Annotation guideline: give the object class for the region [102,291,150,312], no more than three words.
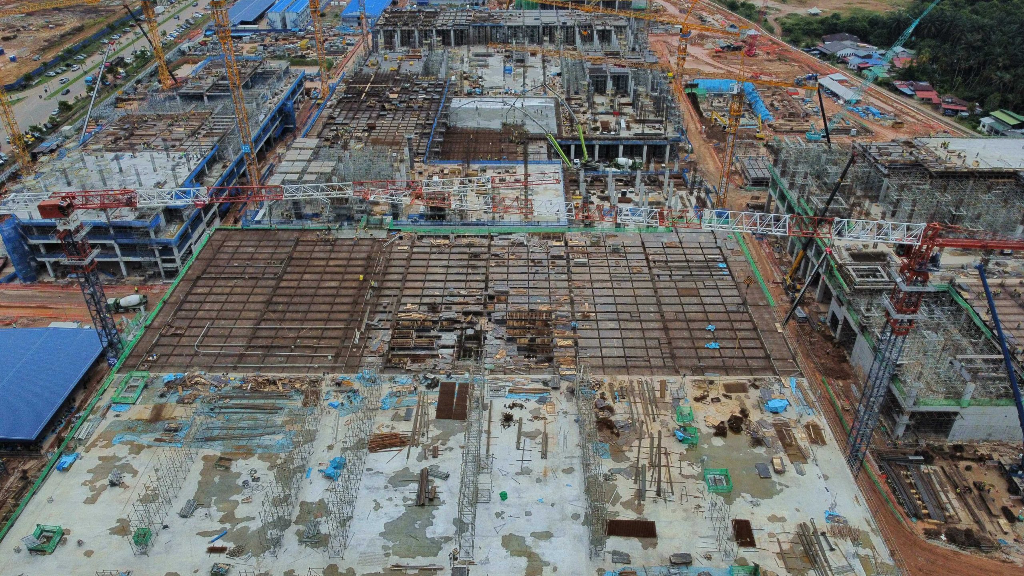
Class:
truck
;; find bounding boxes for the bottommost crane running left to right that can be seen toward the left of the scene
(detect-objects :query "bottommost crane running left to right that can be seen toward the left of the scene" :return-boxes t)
[0,168,561,370]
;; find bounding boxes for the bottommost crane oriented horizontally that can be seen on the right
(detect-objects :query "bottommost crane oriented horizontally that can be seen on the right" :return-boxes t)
[362,180,1024,482]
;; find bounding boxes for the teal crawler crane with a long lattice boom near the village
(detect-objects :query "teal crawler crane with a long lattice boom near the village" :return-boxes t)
[802,0,937,144]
